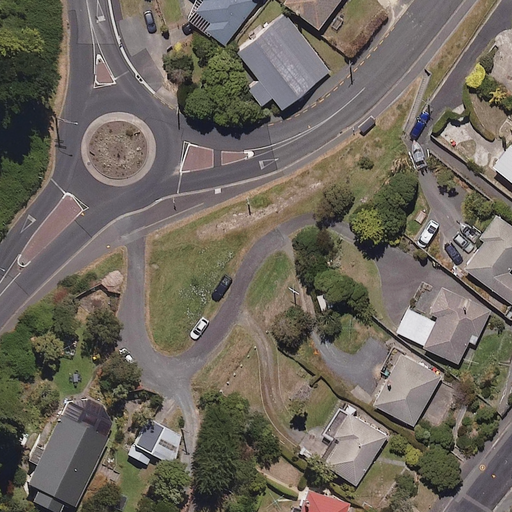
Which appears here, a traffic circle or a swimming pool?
traffic circle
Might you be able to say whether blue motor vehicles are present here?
Yes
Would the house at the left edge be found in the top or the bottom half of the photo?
bottom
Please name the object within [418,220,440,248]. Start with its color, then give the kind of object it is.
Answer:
white car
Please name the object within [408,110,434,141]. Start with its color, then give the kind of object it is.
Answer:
blue truck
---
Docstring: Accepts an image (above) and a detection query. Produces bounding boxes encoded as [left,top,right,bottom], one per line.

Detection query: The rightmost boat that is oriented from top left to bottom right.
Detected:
[460,223,481,243]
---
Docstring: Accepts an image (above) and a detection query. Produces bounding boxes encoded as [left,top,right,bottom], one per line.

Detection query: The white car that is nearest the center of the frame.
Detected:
[190,316,210,342]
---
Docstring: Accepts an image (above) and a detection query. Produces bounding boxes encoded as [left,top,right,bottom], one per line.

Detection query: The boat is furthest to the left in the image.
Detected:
[412,139,426,168]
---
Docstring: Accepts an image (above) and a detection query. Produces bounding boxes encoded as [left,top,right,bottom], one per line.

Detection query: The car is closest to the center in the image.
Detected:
[212,274,233,302]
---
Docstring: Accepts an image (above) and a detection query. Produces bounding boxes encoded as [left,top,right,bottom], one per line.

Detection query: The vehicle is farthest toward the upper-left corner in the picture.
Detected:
[142,8,156,34]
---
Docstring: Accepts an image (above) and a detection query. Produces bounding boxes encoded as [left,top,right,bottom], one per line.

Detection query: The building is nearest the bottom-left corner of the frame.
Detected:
[23,400,112,512]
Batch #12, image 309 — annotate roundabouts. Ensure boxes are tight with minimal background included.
[80,112,156,186]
